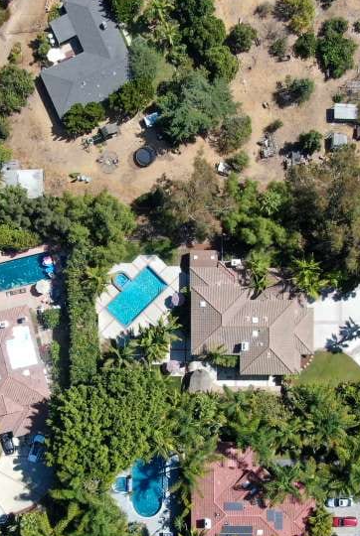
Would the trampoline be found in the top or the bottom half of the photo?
top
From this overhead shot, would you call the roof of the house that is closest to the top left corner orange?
No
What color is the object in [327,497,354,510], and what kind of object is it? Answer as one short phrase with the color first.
white vehicle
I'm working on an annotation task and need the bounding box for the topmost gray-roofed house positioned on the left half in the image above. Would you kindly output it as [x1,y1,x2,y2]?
[40,0,130,119]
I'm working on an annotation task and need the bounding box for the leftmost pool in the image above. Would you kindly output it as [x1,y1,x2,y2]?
[0,249,57,292]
